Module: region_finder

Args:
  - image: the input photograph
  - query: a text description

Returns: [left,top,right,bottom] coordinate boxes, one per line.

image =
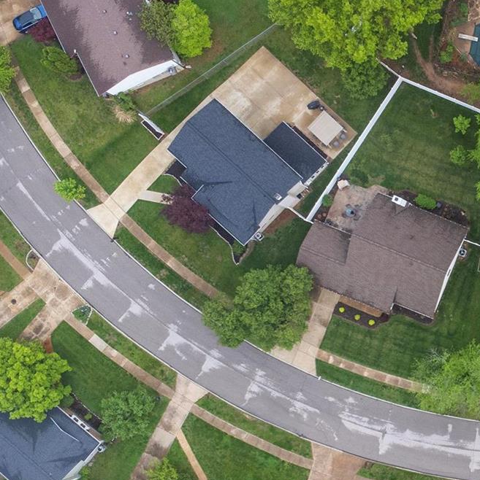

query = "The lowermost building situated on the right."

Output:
[292,189,470,319]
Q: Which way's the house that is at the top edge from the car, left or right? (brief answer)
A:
to the right of it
